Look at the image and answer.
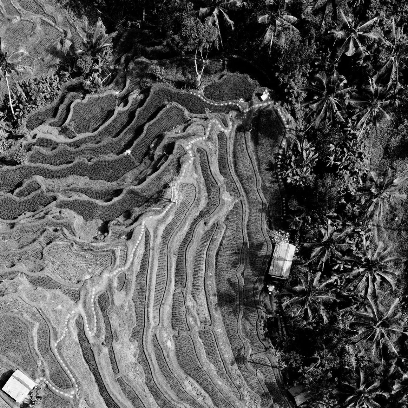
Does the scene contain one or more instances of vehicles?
No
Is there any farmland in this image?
Yes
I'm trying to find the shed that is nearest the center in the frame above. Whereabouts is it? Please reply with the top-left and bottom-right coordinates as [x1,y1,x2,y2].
[267,243,295,281]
